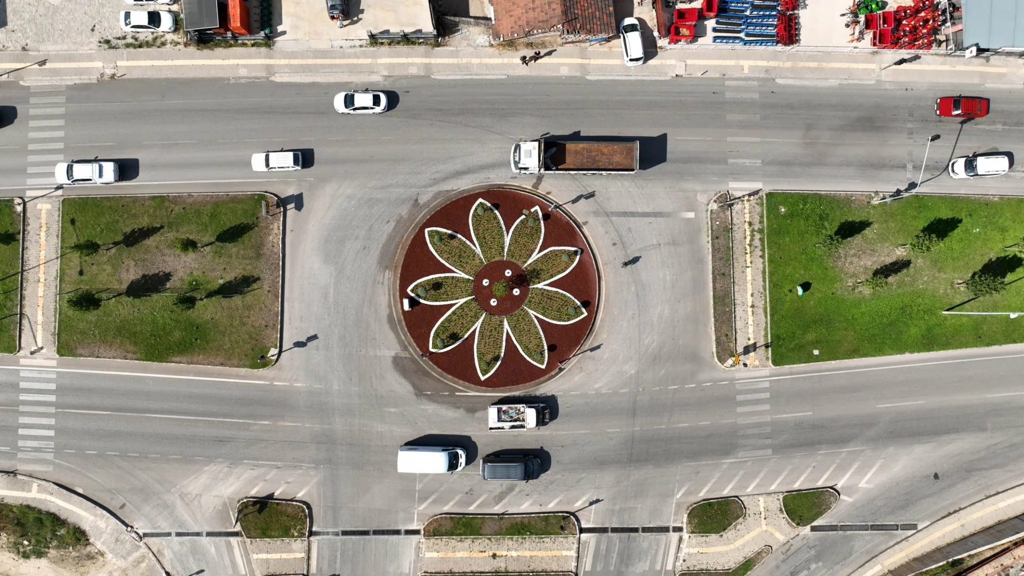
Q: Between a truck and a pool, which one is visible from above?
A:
truck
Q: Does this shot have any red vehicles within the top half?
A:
Yes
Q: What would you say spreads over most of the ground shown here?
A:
paved ground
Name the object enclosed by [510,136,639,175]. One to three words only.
truck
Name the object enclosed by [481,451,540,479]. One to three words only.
van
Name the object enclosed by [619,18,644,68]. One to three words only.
car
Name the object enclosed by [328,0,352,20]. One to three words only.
car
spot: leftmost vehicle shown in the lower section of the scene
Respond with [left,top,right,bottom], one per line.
[398,443,466,474]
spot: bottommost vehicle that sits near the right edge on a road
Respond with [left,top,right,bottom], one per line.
[948,153,1011,180]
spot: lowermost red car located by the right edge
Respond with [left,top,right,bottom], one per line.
[934,95,989,119]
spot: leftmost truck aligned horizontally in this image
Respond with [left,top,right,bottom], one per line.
[57,161,122,186]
